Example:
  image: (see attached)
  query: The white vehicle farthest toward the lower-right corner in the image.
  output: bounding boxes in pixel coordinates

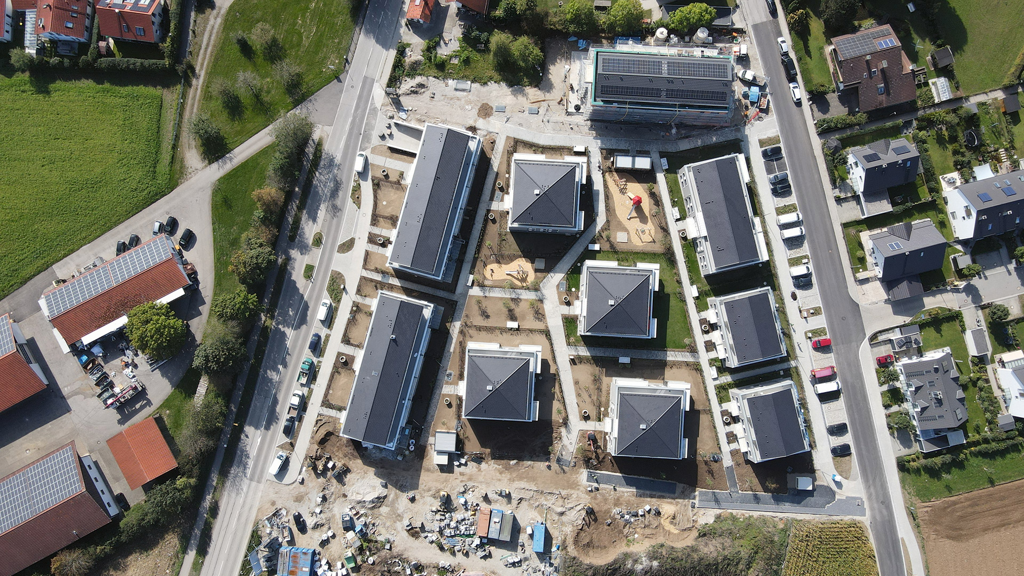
[814,381,838,394]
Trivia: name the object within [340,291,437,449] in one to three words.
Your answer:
building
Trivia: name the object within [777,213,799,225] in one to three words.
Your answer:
vehicle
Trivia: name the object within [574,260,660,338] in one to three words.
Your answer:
house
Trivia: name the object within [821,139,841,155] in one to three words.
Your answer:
gazebo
